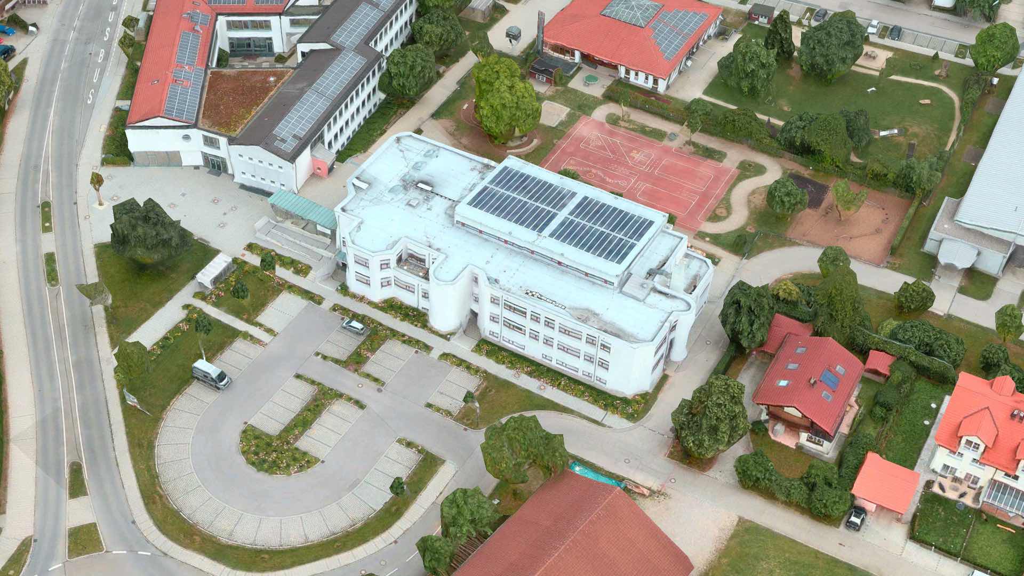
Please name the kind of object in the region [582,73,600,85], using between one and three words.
umbrella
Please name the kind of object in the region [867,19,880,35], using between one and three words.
vehicle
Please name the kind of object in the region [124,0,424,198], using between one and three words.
building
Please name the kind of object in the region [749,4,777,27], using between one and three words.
shed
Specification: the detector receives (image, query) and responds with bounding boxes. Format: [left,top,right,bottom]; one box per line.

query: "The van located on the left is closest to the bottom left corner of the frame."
[189,358,233,392]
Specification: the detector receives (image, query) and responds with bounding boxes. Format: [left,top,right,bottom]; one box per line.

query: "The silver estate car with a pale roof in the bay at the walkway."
[338,319,370,338]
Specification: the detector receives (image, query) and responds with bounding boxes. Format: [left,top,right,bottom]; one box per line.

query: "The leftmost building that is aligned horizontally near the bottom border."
[462,470,692,576]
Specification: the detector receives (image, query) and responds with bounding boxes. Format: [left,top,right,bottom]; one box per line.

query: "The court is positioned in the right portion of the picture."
[534,116,739,233]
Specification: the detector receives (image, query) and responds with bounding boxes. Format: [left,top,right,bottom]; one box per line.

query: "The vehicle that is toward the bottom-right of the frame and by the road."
[848,503,867,533]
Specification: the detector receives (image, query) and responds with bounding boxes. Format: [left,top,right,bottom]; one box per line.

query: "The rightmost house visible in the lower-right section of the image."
[927,373,1024,513]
